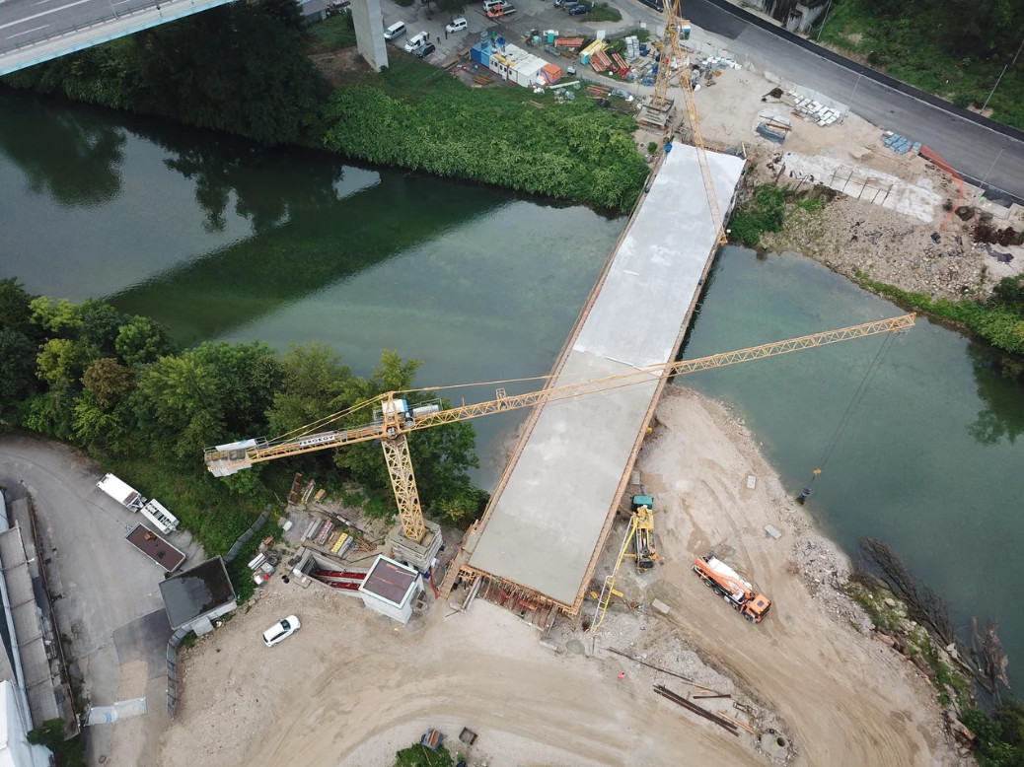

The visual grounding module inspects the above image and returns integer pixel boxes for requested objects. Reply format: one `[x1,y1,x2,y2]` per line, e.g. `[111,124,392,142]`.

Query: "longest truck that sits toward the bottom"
[584,482,673,658]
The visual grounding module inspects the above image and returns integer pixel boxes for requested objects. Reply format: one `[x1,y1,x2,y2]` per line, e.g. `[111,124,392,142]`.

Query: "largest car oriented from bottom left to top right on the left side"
[258,614,302,648]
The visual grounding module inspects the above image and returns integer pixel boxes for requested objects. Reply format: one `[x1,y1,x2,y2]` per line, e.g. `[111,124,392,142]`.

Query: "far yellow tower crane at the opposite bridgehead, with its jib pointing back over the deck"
[641,0,731,243]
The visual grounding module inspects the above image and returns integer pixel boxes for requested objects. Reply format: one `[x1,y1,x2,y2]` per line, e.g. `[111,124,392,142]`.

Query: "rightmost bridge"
[440,140,753,655]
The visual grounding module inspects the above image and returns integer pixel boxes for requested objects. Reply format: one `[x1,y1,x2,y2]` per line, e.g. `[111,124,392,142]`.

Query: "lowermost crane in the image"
[201,307,920,580]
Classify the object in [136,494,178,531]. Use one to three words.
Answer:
trailer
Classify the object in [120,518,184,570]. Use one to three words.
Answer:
trailer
